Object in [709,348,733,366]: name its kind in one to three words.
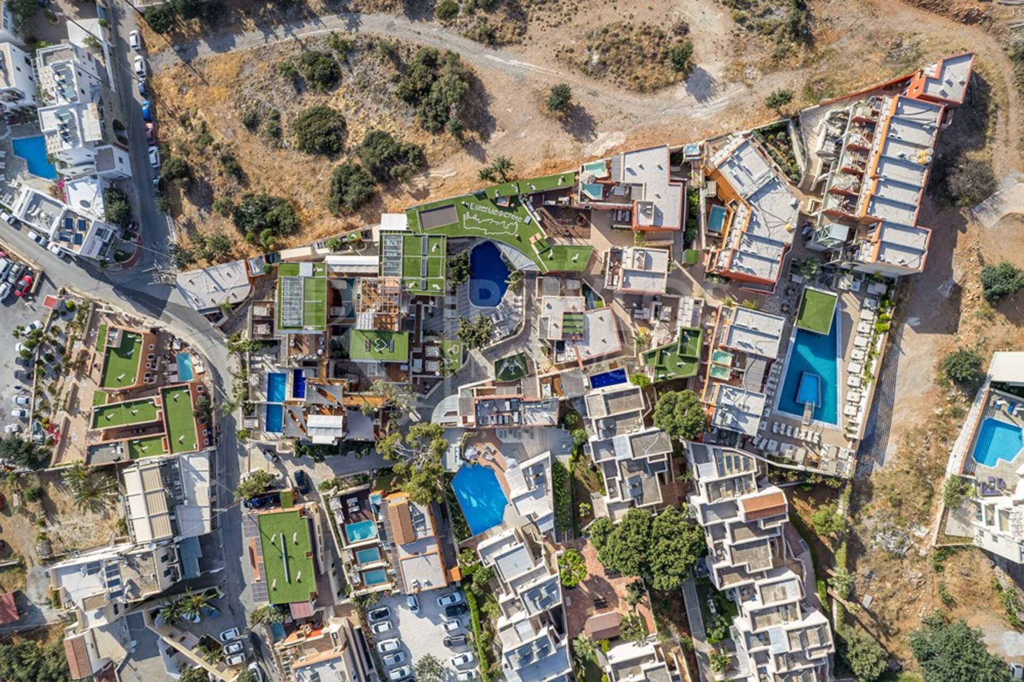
swimming pool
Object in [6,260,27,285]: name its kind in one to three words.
car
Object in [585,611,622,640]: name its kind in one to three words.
building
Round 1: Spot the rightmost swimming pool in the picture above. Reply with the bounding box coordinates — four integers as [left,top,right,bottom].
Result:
[970,416,1024,470]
